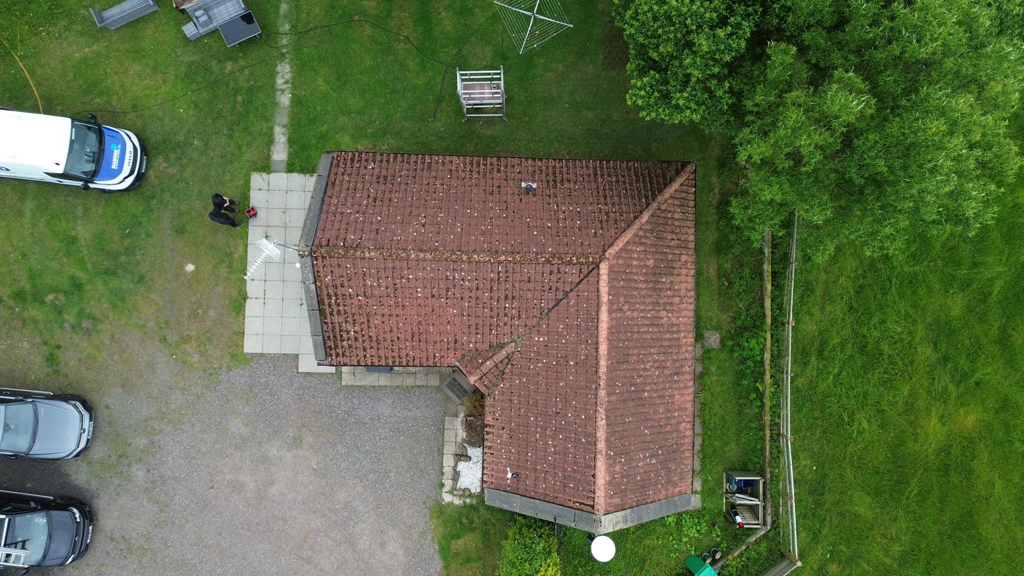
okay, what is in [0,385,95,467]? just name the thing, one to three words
truck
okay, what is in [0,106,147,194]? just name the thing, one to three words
van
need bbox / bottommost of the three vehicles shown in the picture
[0,488,95,576]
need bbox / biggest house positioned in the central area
[298,152,697,533]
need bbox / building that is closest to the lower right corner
[723,469,764,526]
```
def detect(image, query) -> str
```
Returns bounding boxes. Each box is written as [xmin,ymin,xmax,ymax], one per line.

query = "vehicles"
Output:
[0,385,95,467]
[0,488,95,576]
[0,106,147,194]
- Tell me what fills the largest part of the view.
grass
